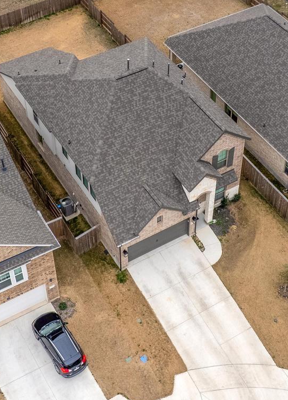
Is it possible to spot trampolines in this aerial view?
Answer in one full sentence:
No, this view has no trampoline in it.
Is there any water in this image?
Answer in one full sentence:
No, the scene doesn't show any water.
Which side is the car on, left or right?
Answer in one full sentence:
The car appears in the left half of the scene.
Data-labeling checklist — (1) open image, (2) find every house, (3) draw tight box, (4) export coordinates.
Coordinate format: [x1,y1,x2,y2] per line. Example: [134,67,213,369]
[0,132,64,324]
[0,37,253,271]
